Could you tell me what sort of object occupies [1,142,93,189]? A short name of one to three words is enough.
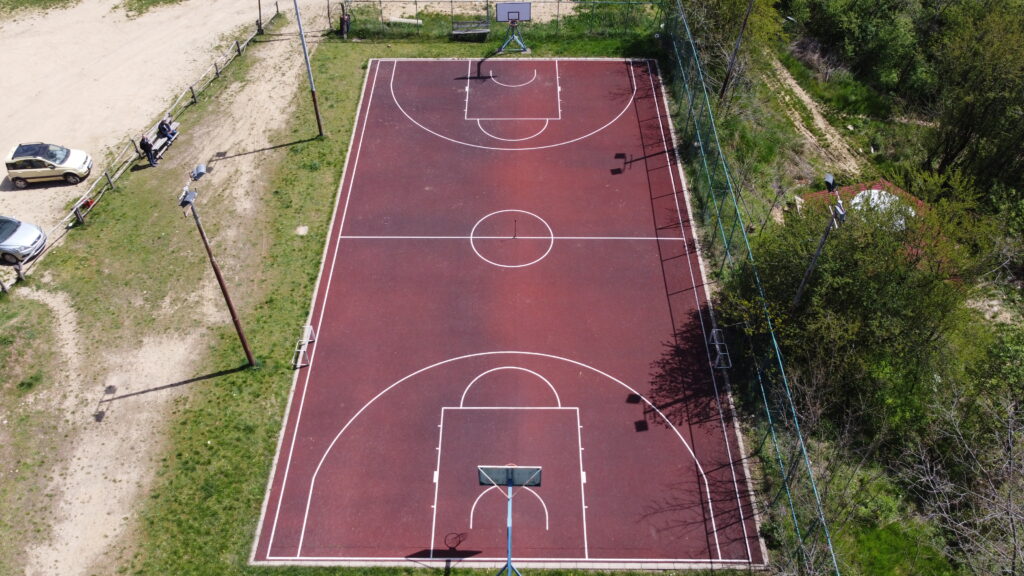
car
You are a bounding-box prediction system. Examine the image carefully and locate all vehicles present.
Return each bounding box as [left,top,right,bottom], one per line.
[1,142,93,189]
[0,212,50,264]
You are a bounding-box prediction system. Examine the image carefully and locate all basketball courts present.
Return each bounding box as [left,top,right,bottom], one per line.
[247,57,771,571]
